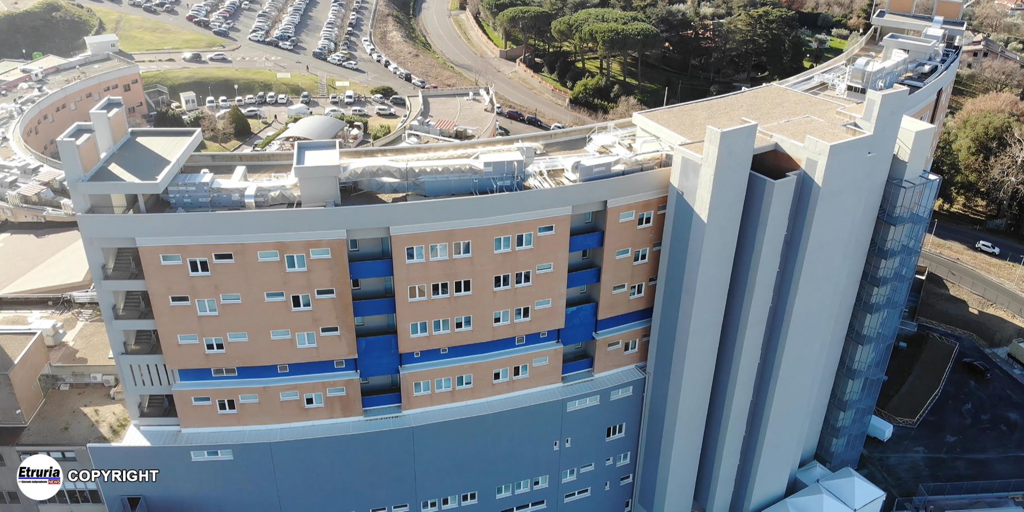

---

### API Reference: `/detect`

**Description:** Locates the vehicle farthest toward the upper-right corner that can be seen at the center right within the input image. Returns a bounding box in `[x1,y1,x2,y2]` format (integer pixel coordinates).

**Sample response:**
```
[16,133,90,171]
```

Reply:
[973,237,1005,254]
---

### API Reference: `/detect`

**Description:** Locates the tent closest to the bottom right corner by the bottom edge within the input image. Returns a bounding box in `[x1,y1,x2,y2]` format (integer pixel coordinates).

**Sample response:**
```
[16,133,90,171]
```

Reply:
[817,466,886,512]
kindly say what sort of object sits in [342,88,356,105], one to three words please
vehicle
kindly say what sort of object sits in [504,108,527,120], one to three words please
vehicle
